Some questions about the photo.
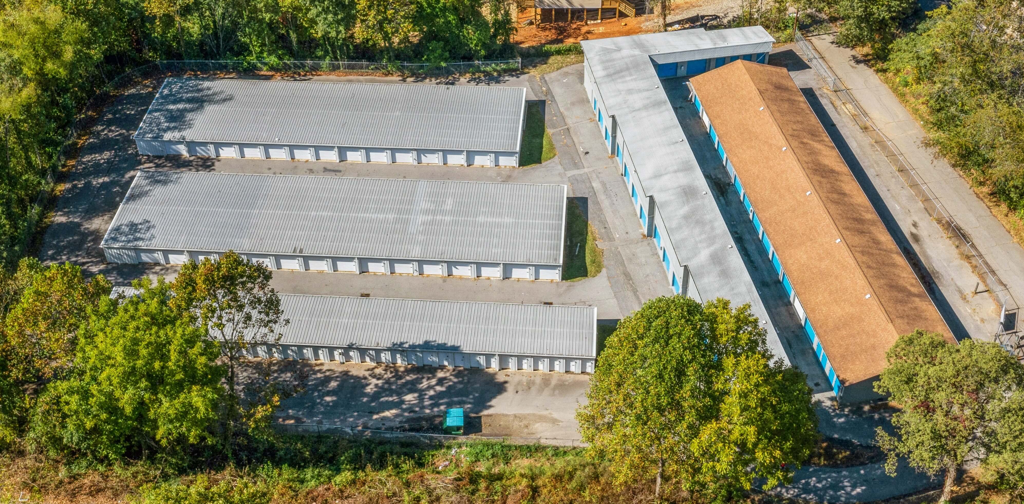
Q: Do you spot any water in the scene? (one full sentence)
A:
No, the picture contains no water.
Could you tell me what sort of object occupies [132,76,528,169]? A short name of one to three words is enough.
building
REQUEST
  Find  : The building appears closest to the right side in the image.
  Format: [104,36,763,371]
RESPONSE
[684,59,961,406]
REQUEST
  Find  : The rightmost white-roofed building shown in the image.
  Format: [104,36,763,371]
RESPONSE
[580,26,785,352]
